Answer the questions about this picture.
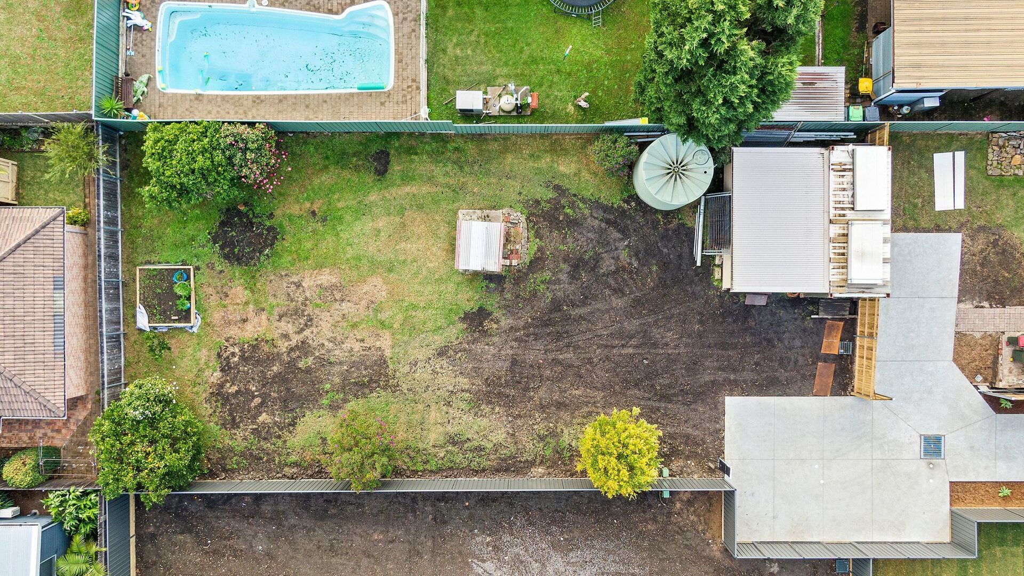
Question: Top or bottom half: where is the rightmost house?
top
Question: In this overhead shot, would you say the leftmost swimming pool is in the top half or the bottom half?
top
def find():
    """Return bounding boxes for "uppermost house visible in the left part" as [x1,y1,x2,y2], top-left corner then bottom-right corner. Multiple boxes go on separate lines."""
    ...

[0,204,89,421]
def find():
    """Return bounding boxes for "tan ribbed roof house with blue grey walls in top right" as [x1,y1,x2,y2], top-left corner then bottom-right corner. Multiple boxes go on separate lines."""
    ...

[872,0,1024,105]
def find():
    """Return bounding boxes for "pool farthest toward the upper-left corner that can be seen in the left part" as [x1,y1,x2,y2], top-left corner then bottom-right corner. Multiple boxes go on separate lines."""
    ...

[155,0,394,95]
